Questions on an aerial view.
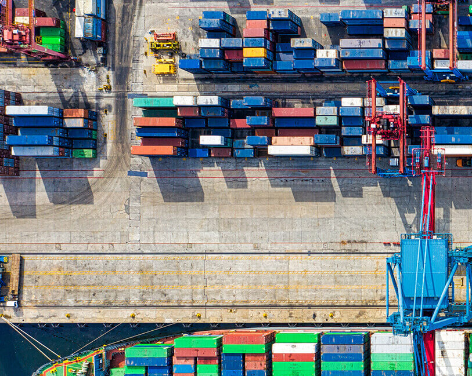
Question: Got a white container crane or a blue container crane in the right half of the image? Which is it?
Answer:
blue container crane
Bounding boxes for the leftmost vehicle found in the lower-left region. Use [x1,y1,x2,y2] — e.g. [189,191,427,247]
[7,253,22,308]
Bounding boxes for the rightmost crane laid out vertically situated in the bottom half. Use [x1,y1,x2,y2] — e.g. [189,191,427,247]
[384,116,472,376]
